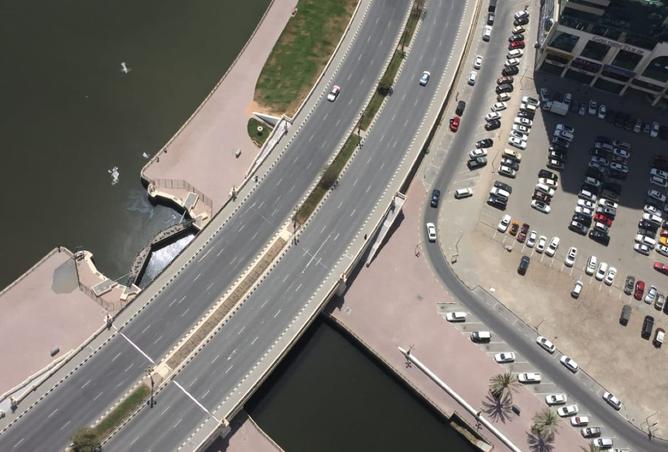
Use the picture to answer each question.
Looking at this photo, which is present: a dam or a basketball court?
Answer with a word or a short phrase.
dam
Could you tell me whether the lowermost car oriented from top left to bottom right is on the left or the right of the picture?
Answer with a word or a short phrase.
right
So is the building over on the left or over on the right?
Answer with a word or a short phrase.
right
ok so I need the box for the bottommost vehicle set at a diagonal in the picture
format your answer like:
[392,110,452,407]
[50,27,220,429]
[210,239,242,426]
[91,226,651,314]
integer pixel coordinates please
[601,391,622,411]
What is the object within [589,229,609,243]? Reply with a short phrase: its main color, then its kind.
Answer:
black vehicle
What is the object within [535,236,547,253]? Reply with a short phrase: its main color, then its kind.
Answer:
white vehicle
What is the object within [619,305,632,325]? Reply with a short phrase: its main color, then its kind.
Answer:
gray vehicle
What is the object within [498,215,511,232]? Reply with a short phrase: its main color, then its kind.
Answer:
white vehicle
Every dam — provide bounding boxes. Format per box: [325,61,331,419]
[129,222,200,286]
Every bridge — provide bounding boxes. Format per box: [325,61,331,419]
[0,0,478,452]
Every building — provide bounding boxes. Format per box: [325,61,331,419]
[536,0,668,98]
